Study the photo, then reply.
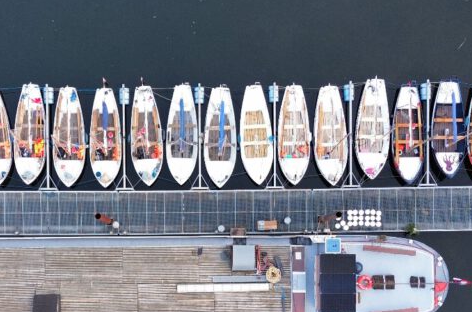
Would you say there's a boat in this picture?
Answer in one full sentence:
Yes, you can see a boat in this photo.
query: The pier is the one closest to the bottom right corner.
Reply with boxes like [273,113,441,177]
[312,187,472,231]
